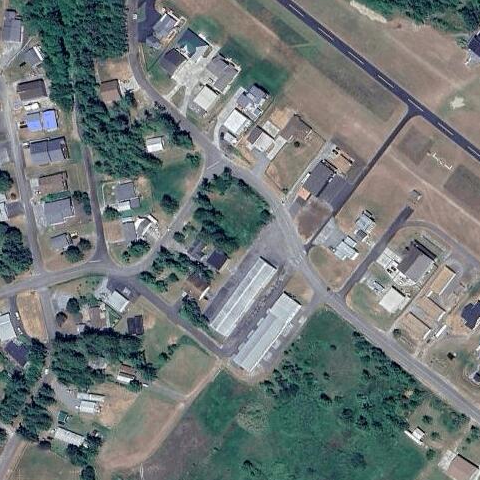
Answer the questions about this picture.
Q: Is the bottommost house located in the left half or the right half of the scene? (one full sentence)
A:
It is on the right.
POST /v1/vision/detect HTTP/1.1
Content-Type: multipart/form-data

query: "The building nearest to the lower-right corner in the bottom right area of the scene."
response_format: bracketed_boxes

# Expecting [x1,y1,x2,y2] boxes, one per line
[447,454,478,480]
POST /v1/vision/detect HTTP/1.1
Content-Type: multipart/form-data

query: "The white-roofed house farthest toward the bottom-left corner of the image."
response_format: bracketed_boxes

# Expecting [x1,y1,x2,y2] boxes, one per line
[55,426,86,448]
